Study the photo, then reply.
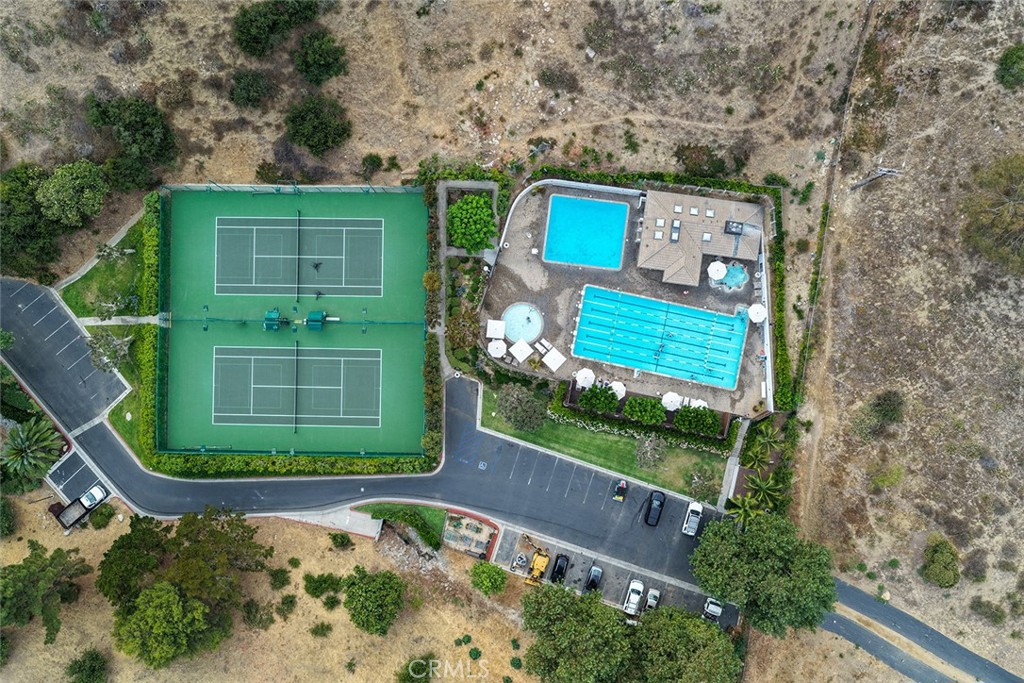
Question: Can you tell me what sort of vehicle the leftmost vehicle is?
truck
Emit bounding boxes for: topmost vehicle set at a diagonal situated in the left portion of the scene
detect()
[52,483,107,531]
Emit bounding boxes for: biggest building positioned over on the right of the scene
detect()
[637,190,764,287]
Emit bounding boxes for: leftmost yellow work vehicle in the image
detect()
[522,530,552,585]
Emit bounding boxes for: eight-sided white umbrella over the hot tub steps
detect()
[707,261,726,280]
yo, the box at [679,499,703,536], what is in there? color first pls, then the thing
white car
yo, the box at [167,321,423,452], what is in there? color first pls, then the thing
green tennis court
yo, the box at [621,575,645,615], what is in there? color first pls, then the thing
white car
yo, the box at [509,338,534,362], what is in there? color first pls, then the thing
white umbrella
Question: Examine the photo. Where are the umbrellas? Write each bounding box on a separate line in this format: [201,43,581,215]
[747,304,766,322]
[542,347,566,371]
[488,339,506,357]
[509,338,534,362]
[576,368,595,387]
[487,320,505,338]
[688,395,708,414]
[707,261,726,280]
[607,381,626,400]
[662,392,681,411]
